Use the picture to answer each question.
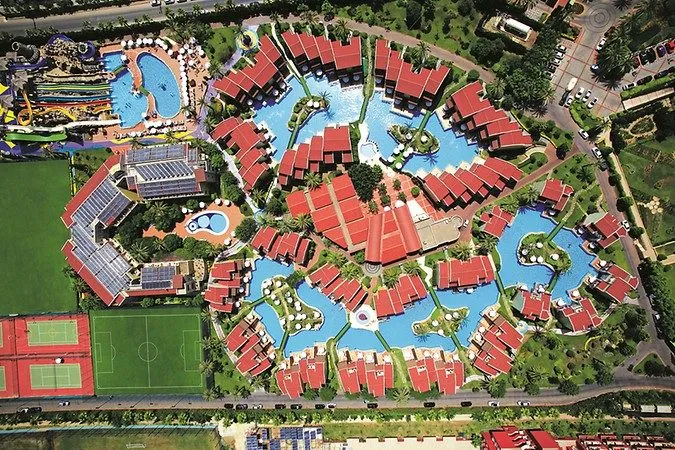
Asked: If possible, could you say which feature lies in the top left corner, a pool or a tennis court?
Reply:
pool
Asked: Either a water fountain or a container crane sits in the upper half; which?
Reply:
water fountain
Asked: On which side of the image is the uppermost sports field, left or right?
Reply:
left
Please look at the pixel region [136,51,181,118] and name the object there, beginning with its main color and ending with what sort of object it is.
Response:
blue swimming pool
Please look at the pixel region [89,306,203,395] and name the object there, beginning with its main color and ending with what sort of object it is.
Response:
green soccer field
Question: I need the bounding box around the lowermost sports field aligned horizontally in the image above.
[0,424,222,450]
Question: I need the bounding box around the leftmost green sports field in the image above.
[0,160,78,315]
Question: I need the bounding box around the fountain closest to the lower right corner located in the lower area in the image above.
[355,308,372,325]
